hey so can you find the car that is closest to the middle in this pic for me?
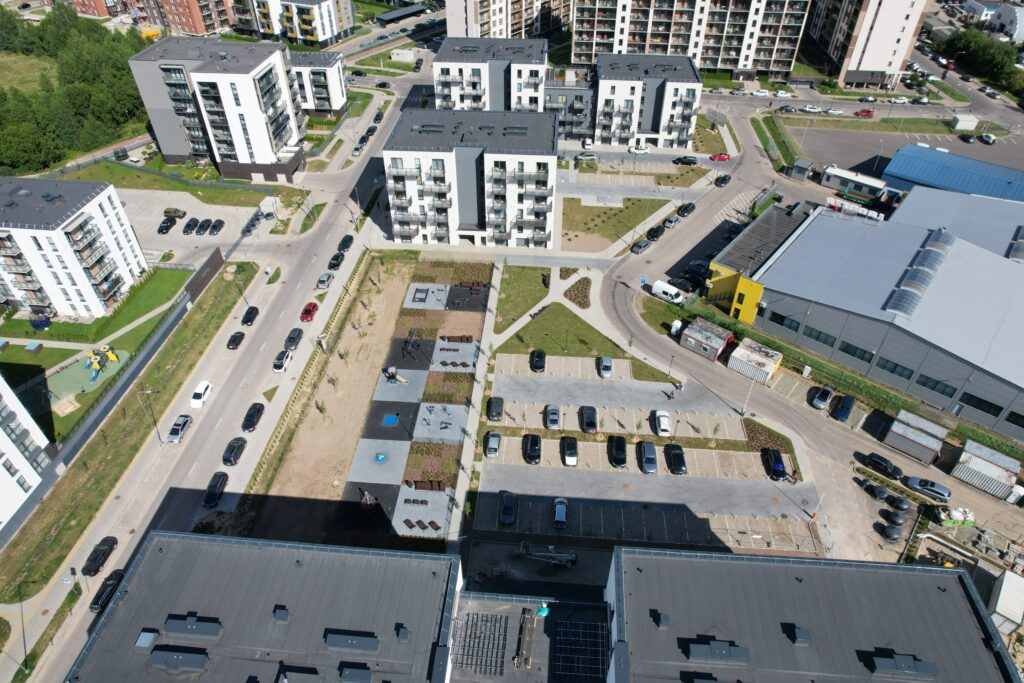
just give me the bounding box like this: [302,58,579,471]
[531,351,545,373]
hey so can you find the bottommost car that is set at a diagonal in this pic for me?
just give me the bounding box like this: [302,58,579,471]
[88,569,126,613]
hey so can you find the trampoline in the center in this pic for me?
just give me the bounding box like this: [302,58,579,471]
[409,286,432,301]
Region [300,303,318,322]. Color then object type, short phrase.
red car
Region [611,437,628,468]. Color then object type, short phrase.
black car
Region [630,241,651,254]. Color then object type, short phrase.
gray vehicle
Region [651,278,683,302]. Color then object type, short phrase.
white vehicle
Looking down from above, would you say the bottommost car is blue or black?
black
